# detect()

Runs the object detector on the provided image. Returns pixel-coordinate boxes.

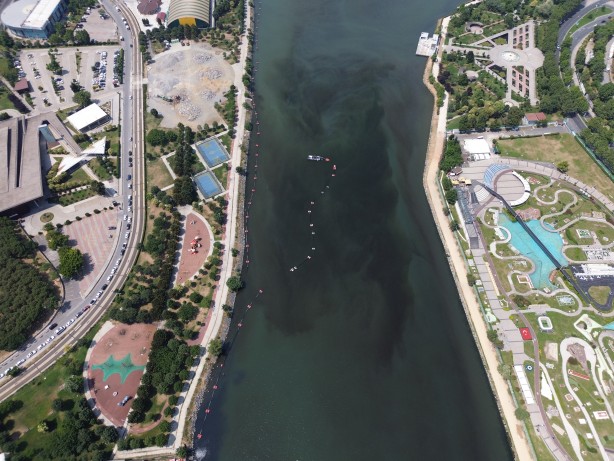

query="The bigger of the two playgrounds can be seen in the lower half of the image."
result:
[88,320,158,427]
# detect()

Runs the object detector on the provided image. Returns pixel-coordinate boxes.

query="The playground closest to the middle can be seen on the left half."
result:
[175,212,210,289]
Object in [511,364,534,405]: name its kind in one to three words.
building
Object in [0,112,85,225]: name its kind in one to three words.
building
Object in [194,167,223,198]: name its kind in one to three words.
sports court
